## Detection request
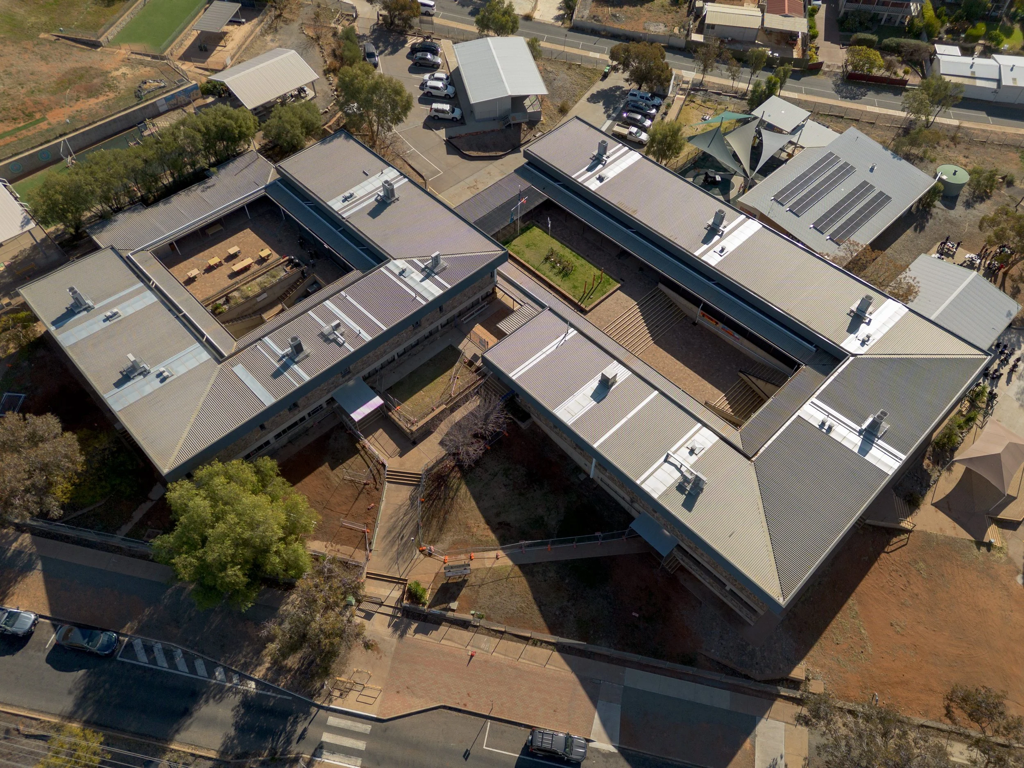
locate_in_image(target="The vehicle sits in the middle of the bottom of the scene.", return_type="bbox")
[524,726,589,764]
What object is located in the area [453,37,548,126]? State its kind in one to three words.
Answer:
building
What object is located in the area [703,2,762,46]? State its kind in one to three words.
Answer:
shed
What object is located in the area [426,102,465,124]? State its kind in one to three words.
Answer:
car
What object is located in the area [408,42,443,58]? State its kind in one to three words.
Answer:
car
